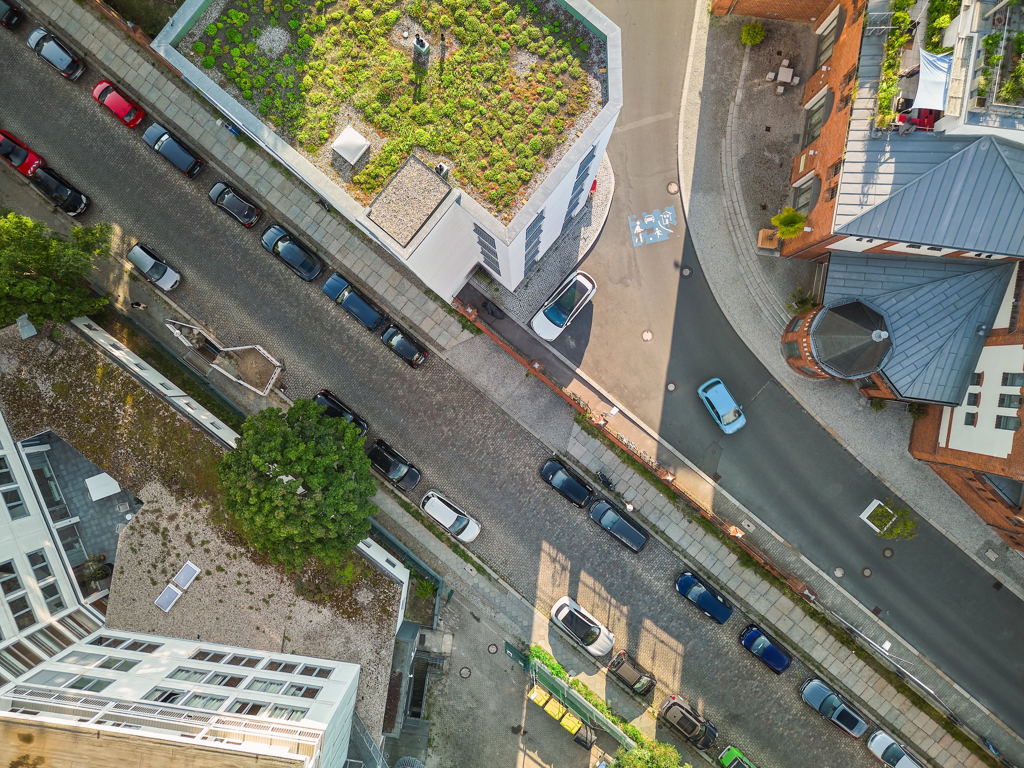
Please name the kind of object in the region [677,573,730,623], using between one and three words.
car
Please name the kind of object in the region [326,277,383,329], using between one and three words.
car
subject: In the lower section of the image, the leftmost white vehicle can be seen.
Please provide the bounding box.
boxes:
[422,489,478,541]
